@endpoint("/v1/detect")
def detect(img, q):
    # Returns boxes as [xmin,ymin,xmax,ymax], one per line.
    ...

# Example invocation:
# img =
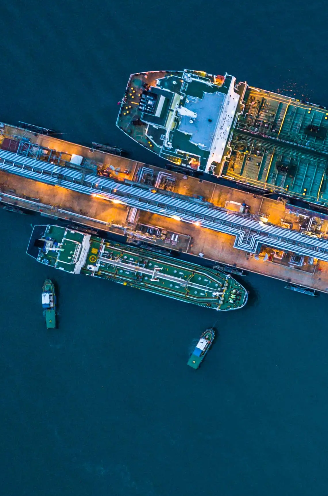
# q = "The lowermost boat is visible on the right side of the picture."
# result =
[186,327,216,369]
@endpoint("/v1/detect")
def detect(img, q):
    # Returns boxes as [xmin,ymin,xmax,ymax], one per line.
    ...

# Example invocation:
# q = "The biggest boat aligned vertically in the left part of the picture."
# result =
[39,279,58,329]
